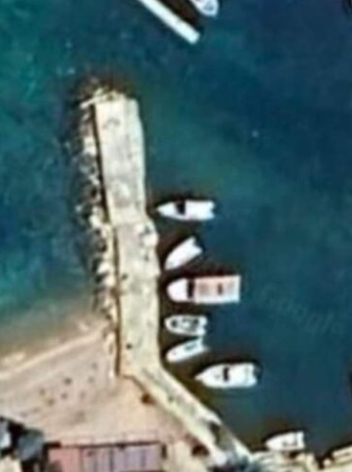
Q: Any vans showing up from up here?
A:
No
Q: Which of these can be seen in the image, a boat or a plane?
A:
boat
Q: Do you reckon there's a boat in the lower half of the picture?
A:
Yes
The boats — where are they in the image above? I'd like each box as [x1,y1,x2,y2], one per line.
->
[192,0,216,18]
[158,274,241,303]
[158,314,208,335]
[159,334,213,360]
[157,234,204,274]
[249,432,309,458]
[148,199,219,219]
[185,363,263,388]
